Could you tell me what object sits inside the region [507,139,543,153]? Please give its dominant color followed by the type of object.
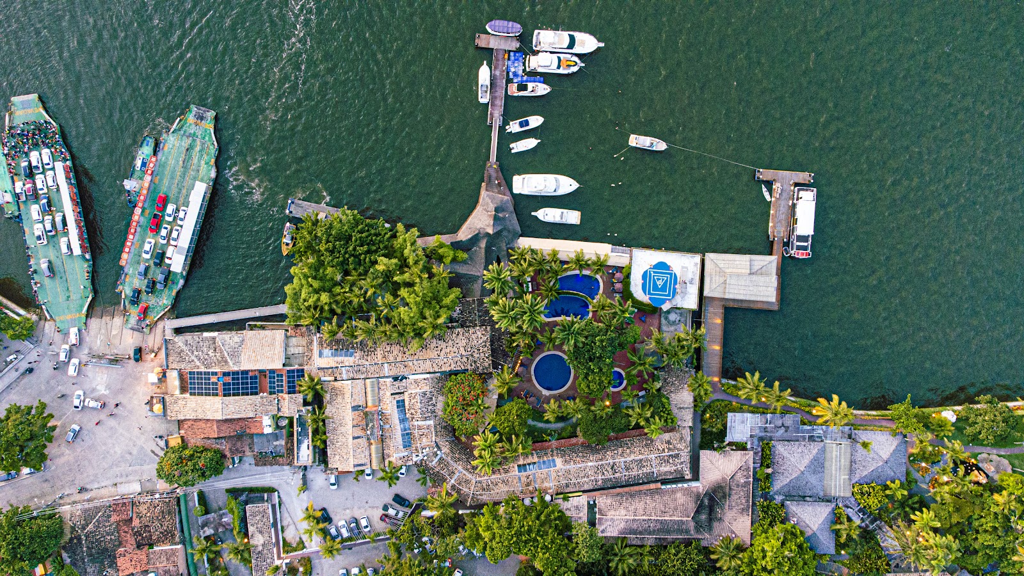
white boat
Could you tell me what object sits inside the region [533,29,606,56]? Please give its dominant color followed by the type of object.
white boat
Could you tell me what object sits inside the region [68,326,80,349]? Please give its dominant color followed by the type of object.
white vehicle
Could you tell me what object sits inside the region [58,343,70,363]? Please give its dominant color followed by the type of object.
white vehicle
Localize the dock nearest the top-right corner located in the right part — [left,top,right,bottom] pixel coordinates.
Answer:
[753,169,814,241]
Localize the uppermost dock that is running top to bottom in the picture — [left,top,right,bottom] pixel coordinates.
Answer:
[476,34,520,128]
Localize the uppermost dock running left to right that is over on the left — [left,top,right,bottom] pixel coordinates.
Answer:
[286,199,342,220]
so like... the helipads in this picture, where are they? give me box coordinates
[630,248,702,311]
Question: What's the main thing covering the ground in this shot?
water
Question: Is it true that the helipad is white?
Yes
